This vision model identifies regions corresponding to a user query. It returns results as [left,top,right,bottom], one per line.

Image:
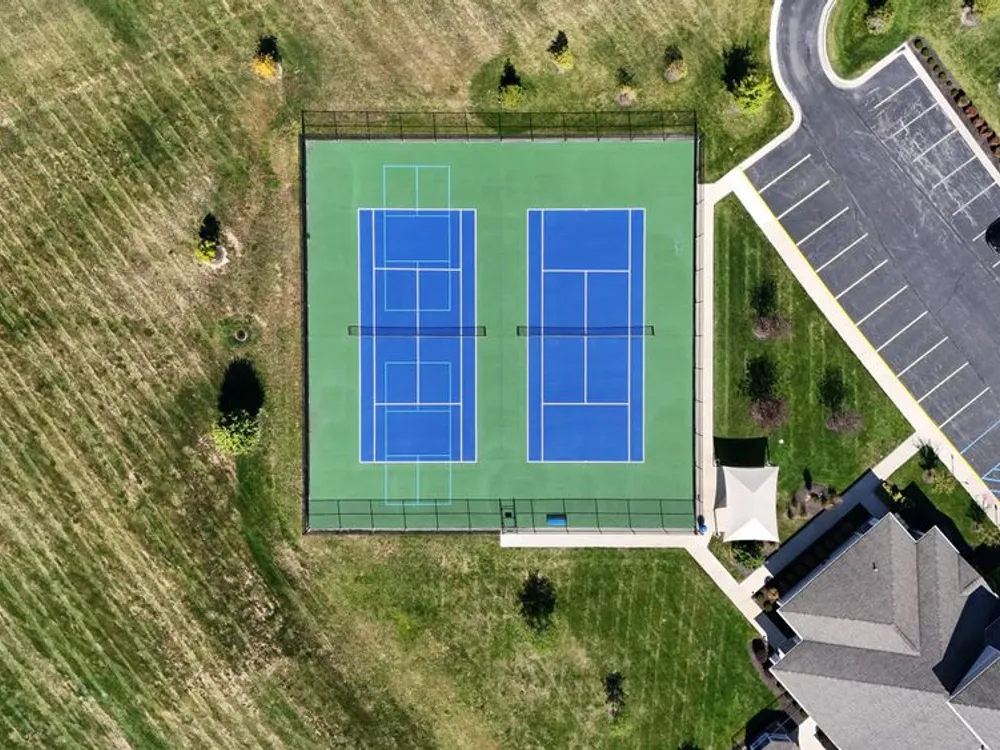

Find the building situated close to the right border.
[765,512,1000,750]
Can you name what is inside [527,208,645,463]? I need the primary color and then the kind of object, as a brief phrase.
blue tennis court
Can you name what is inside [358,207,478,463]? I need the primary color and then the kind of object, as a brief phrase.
blue tennis court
